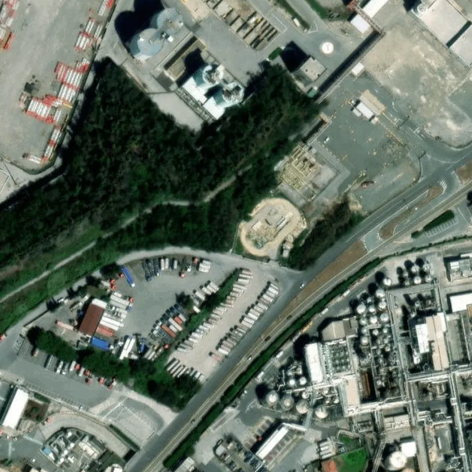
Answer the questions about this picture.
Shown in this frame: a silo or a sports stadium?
silo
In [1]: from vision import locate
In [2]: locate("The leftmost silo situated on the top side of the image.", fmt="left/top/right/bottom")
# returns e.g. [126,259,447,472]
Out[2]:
[130,30,163,62]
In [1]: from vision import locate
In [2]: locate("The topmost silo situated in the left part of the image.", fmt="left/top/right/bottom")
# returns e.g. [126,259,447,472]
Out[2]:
[151,8,182,40]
